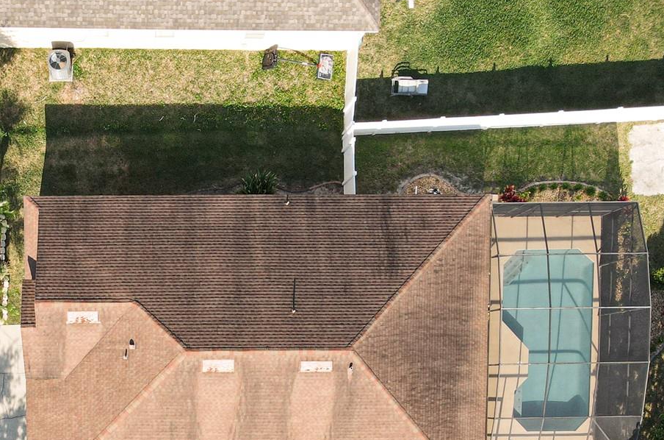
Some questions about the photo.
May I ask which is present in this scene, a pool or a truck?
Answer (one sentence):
This aerial view contains a pool.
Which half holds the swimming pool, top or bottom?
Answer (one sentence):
You can find the swimming pool in the bottom half.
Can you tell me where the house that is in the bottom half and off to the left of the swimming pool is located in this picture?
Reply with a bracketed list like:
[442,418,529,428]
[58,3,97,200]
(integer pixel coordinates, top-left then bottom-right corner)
[19,192,499,440]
